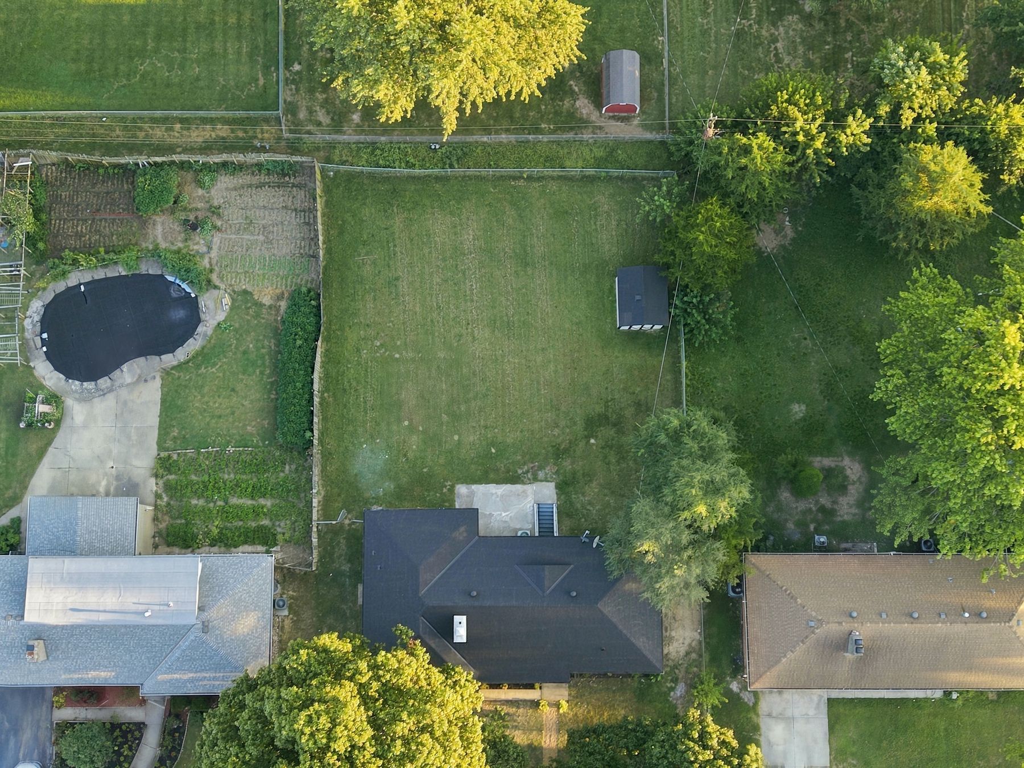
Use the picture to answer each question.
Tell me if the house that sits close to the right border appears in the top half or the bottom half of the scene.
bottom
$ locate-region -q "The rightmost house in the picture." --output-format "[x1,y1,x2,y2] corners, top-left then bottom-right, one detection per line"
[739,551,1024,693]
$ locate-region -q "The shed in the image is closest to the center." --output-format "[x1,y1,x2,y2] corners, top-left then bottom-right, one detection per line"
[613,266,668,334]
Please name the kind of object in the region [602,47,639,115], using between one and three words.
shed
